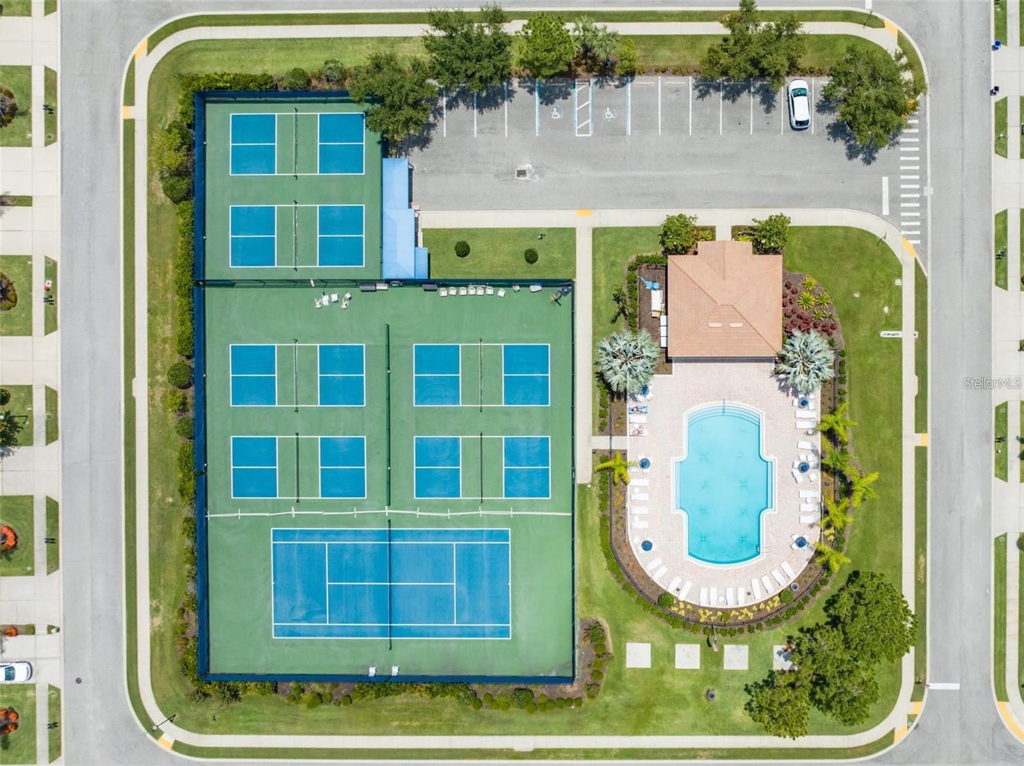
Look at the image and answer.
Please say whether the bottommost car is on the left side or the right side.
left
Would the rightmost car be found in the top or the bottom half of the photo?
top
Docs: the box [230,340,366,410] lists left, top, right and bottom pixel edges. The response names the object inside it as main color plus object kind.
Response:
blue sports court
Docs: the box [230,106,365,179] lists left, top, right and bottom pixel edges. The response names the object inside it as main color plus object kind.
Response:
blue sports court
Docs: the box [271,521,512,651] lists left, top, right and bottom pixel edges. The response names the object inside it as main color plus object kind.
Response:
blue tennis court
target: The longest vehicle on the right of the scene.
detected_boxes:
[786,81,811,130]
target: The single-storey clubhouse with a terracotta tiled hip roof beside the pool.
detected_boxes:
[667,239,783,359]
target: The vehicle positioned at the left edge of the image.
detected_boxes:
[0,660,32,684]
